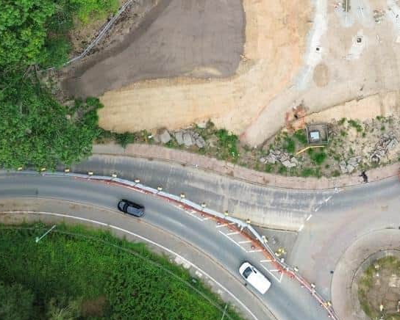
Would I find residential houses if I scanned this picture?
No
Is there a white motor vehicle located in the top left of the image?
No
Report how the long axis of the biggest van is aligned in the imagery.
on a diagonal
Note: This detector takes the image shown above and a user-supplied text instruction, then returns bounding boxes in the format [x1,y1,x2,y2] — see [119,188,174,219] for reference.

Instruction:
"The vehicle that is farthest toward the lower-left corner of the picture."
[115,200,145,219]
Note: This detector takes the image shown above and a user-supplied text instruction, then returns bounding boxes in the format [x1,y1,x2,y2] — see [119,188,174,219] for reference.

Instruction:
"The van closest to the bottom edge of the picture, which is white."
[238,263,272,299]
